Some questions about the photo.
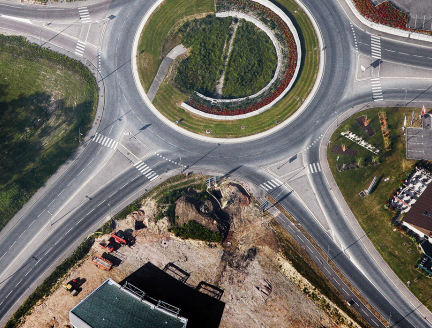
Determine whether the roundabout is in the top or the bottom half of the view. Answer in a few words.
top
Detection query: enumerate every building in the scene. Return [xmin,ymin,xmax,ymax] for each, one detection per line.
[402,182,432,240]
[69,279,187,328]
